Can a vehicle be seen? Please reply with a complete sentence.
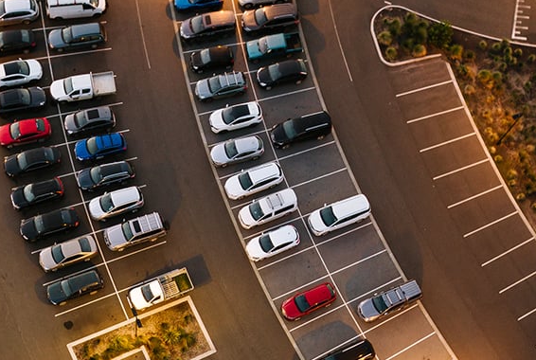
Yes, a vehicle appears in the view.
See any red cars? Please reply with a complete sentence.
Yes, there is a red car in the image.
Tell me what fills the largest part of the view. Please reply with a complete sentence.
What you mostly see from above here is paved ground.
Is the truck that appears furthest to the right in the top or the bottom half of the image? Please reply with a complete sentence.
You can find the truck that appears furthest to the right in the bottom half.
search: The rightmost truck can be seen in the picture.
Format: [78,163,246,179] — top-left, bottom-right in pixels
[354,278,426,323]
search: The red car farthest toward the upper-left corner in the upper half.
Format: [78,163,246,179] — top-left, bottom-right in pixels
[0,116,53,148]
